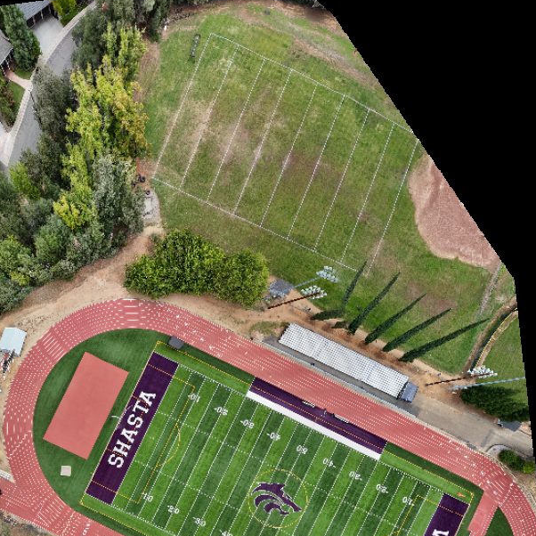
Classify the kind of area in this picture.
sports ground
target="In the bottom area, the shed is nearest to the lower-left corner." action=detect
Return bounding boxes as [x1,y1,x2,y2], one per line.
[0,328,27,357]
